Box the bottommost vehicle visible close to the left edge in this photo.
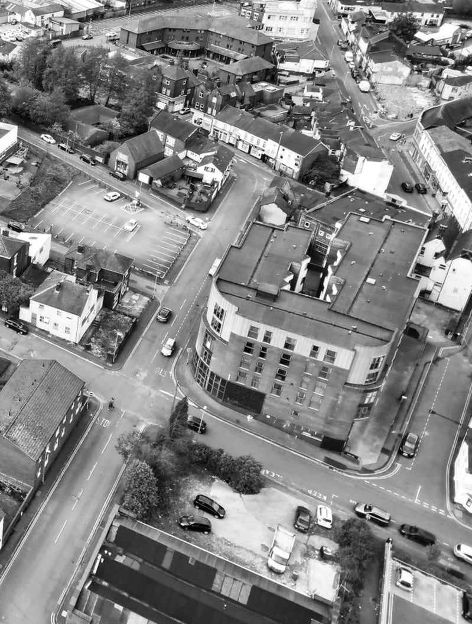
[3,320,30,336]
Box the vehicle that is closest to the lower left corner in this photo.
[177,515,213,536]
